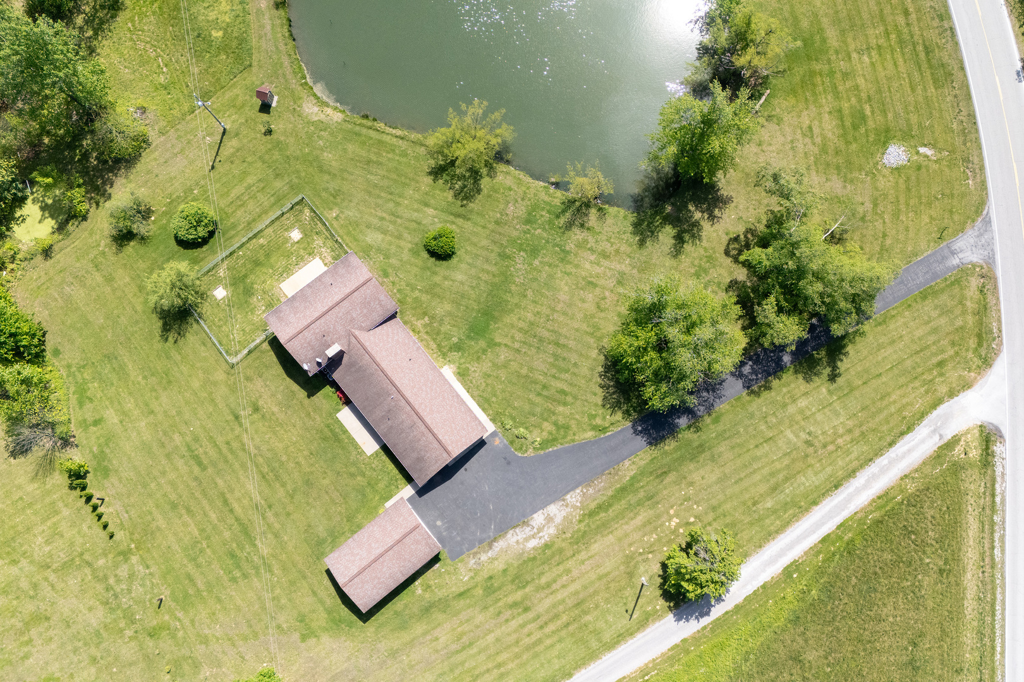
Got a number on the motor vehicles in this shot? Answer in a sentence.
No motor vehicles are visible.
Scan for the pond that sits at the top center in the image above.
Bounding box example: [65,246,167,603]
[287,0,724,212]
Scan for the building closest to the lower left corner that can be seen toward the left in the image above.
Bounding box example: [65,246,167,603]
[324,497,442,613]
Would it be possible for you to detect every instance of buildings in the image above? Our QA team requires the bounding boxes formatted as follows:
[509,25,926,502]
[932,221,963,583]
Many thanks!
[255,87,274,104]
[265,250,488,488]
[324,497,442,613]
